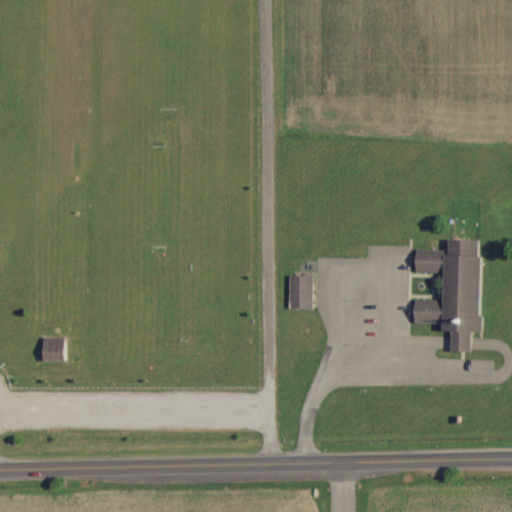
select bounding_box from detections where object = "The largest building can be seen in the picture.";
[412,240,482,352]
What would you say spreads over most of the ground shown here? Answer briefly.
grass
